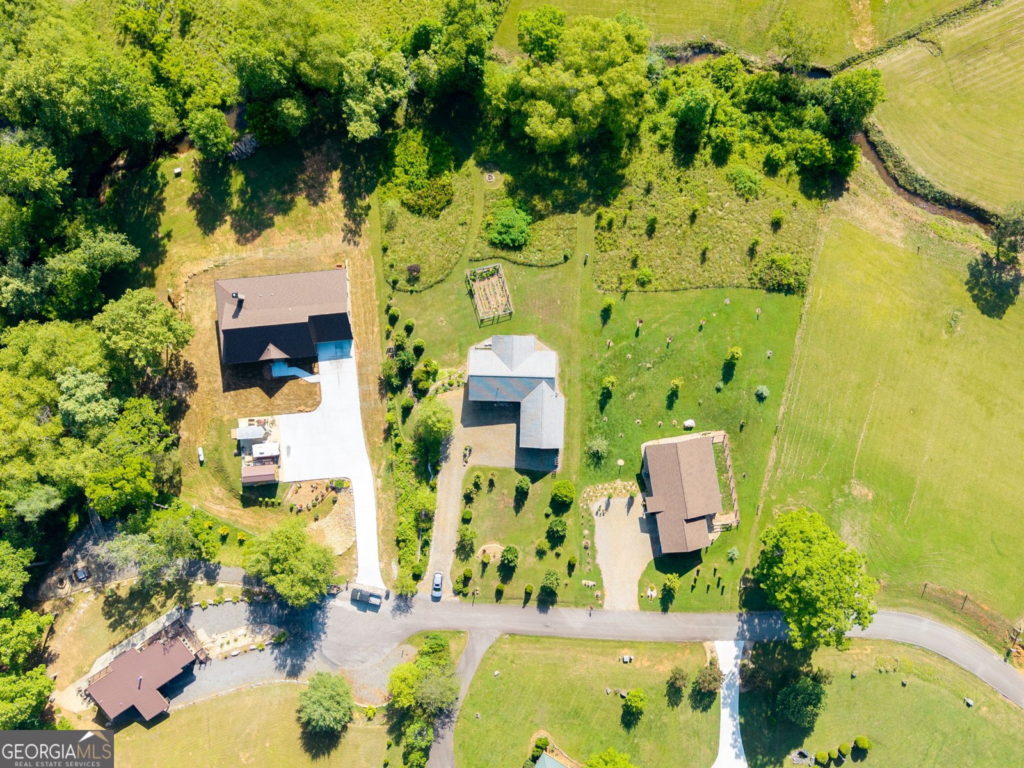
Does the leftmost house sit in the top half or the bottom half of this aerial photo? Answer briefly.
bottom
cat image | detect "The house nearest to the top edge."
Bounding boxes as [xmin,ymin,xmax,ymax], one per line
[215,269,353,363]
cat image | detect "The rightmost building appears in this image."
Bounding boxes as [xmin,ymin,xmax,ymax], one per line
[645,437,722,553]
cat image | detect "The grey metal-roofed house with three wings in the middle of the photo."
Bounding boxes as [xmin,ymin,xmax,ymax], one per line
[468,335,564,448]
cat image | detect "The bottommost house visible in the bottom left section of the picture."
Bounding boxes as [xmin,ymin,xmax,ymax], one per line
[86,634,198,721]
